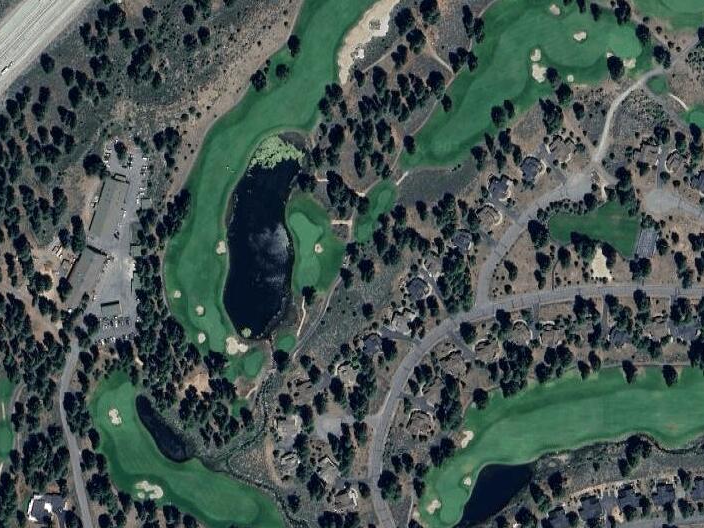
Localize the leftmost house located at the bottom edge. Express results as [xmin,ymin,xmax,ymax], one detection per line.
[28,497,65,518]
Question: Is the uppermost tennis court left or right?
right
